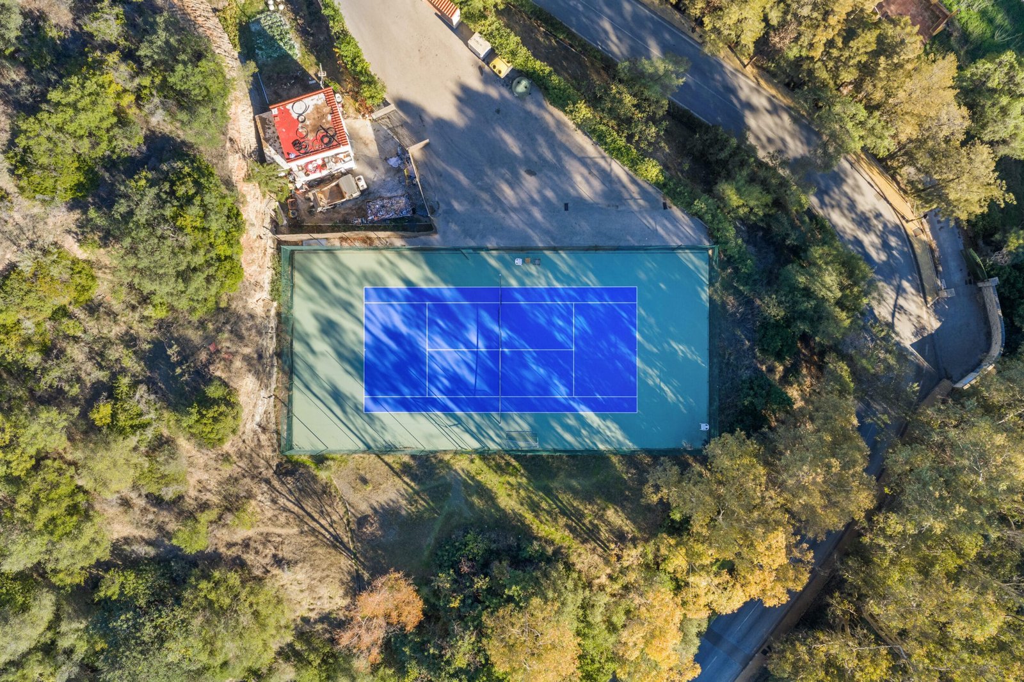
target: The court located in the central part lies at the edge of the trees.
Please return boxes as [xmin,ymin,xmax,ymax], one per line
[291,249,710,451]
